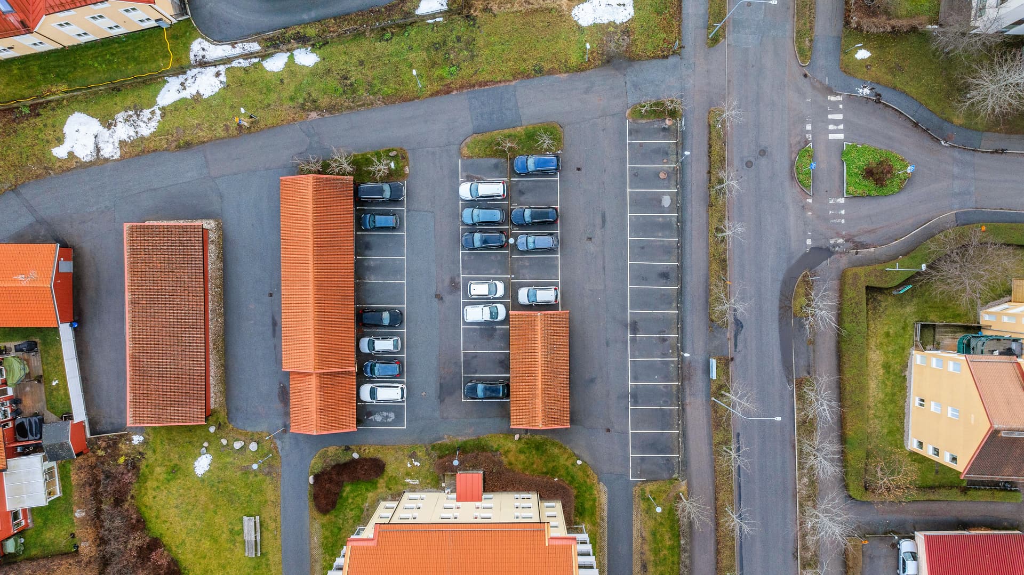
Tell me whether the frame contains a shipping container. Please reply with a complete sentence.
No, this view has no shipping container in it.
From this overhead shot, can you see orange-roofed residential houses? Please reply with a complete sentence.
Yes, you can see an orange-roofed residential house in this photo.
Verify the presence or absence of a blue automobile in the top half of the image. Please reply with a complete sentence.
Yes, the scene does show a blue automobile in the top half of the image.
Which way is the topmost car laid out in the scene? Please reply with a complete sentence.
I'd say the topmost car is aligned from left to right in the picture.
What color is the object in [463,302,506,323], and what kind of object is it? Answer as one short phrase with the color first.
white vehicle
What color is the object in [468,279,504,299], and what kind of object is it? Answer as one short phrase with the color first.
white car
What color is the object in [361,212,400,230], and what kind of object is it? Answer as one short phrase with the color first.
blue car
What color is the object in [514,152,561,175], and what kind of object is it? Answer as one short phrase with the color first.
blue car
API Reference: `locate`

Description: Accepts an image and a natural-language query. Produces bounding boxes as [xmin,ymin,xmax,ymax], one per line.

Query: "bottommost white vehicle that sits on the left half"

[359,383,407,405]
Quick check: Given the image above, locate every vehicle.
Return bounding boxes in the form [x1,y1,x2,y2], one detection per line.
[463,302,506,323]
[516,232,559,253]
[468,279,504,299]
[514,152,561,175]
[357,181,405,203]
[896,545,922,575]
[460,179,506,201]
[464,380,511,401]
[358,308,403,329]
[511,204,559,226]
[359,335,401,355]
[359,383,407,405]
[462,229,507,251]
[518,285,559,306]
[361,212,400,230]
[462,205,505,226]
[363,359,402,378]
